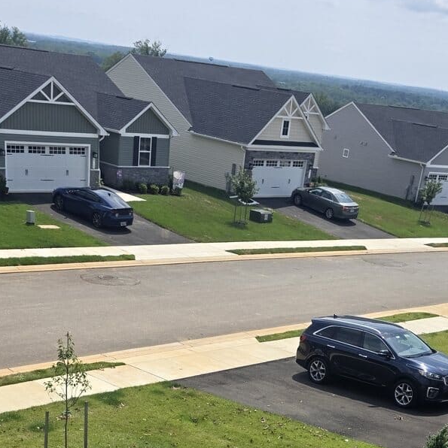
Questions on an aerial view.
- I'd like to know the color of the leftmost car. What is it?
black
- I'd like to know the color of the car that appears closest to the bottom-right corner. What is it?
black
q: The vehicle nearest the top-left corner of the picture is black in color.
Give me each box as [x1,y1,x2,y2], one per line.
[54,188,141,227]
